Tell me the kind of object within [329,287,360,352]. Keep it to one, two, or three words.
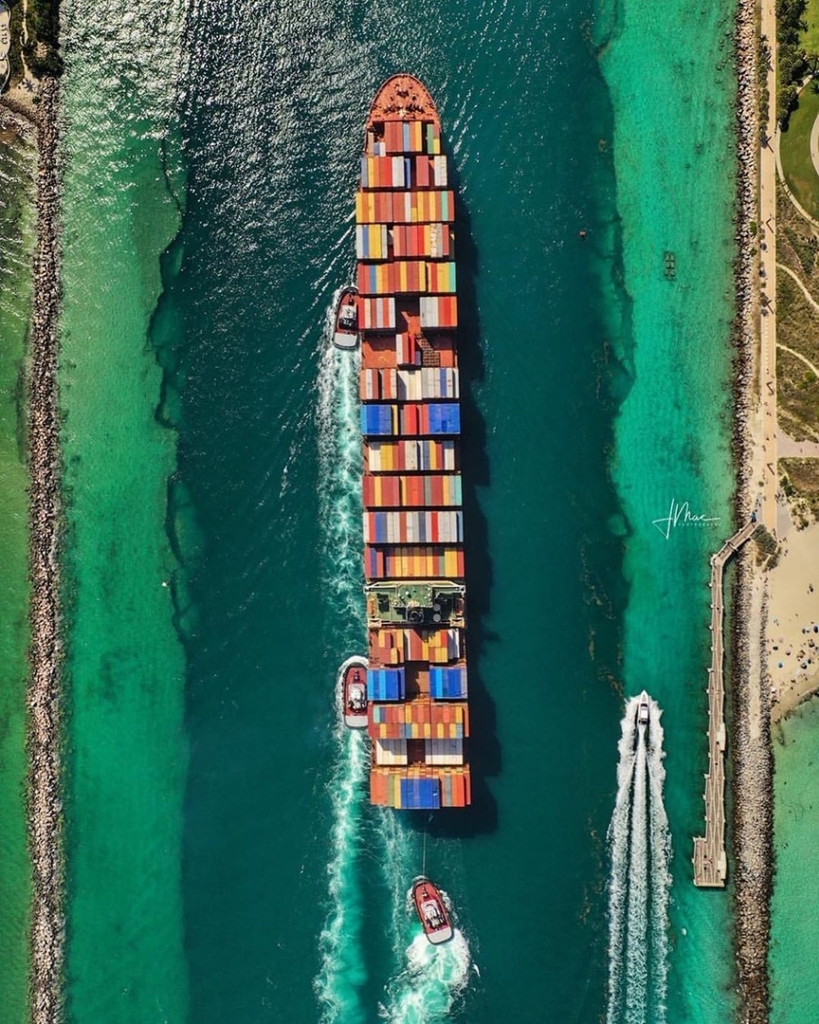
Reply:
boat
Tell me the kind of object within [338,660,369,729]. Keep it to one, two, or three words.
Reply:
boat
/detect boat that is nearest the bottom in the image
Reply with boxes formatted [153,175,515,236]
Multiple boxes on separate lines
[413,875,452,946]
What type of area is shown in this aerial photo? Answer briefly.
port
